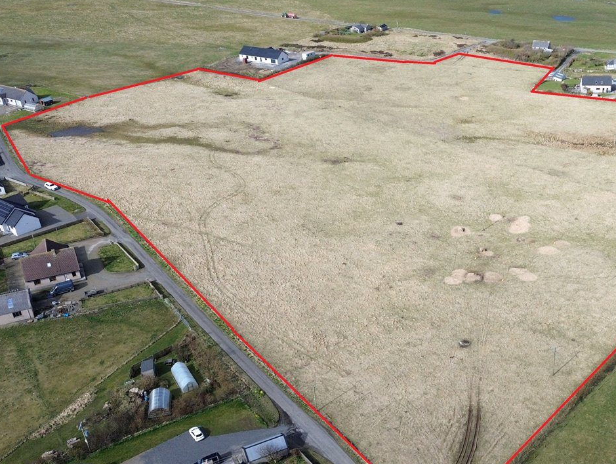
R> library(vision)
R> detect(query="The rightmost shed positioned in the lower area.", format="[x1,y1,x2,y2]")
[243,434,288,464]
